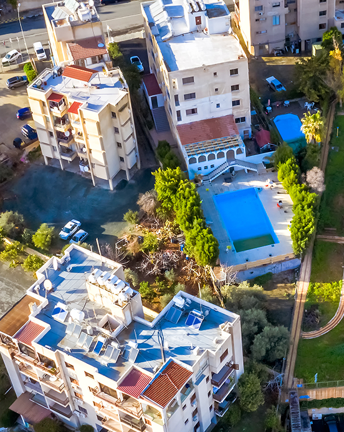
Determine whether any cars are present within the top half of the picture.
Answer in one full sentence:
Yes, a car shows up within the top half of the picture.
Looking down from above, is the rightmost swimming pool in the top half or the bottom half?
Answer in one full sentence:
The rightmost swimming pool is in the top half of the image.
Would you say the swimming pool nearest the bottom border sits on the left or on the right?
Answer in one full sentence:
The swimming pool nearest the bottom border appears in the right half of the scene.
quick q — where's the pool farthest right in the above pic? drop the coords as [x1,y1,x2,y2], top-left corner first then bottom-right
[271,111,308,144]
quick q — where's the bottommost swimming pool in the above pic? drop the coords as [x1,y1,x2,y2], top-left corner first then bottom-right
[211,185,281,254]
